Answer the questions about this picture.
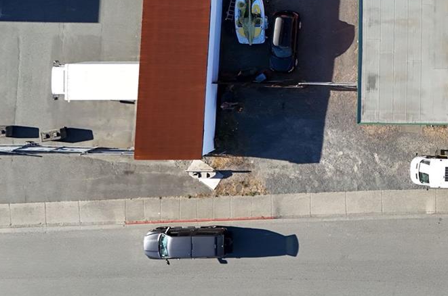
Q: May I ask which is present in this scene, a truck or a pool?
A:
truck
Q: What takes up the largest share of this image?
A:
paved ground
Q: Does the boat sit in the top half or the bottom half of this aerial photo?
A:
top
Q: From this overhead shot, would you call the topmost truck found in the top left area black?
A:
No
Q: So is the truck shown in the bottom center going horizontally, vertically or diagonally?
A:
horizontally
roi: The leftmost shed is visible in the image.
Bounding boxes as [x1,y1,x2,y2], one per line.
[129,0,225,161]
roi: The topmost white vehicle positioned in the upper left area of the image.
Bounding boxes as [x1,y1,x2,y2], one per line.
[60,60,140,101]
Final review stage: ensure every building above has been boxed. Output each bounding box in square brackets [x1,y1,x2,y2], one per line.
[358,0,448,126]
[129,0,225,161]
